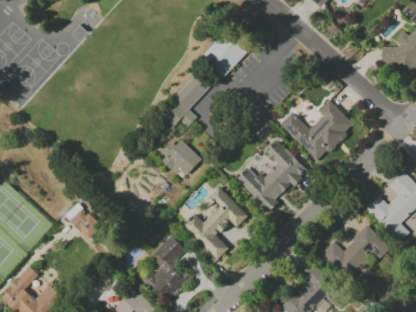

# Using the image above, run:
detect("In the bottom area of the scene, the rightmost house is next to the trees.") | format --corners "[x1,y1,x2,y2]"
[368,171,416,238]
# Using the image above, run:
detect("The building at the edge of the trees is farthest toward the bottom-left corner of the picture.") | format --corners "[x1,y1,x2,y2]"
[0,265,57,312]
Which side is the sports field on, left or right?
left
